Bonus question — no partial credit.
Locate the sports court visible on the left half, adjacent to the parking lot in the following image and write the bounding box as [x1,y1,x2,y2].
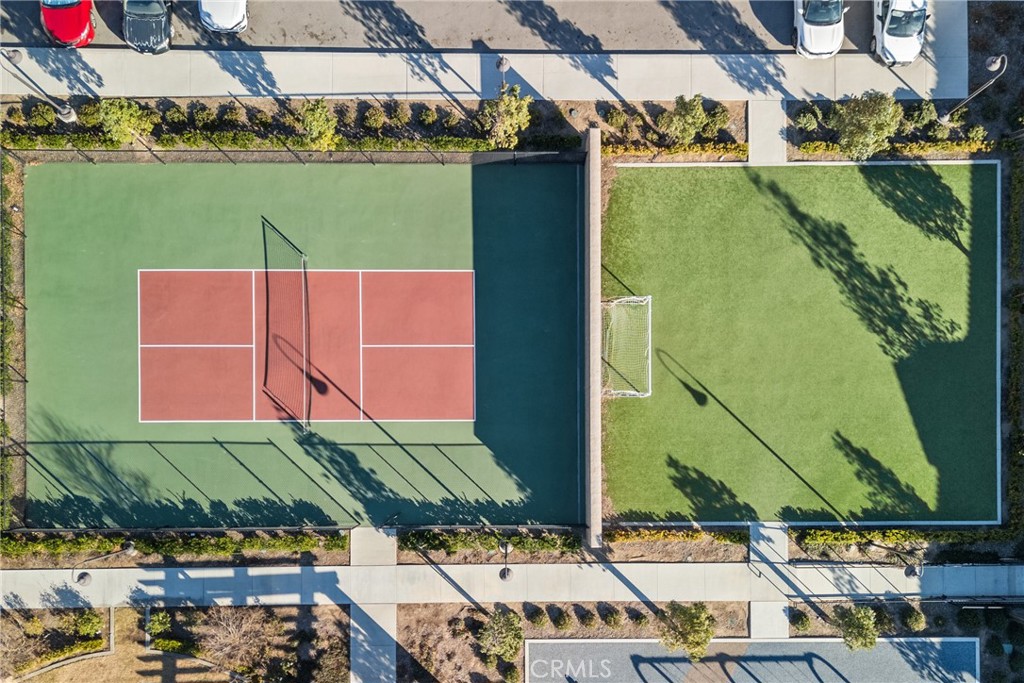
[24,164,583,527]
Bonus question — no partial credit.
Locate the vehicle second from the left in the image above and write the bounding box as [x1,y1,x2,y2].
[114,0,177,56]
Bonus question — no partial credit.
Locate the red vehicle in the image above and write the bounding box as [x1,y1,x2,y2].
[33,0,98,49]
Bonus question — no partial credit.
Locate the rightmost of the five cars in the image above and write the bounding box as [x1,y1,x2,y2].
[869,0,933,69]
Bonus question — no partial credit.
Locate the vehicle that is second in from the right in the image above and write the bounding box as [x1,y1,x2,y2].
[792,0,854,61]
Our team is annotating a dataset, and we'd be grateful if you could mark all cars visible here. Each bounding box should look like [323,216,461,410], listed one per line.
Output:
[199,0,252,31]
[114,0,177,56]
[869,0,933,69]
[792,0,854,61]
[33,0,98,49]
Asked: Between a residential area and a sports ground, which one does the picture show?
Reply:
sports ground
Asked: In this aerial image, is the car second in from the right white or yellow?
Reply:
white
